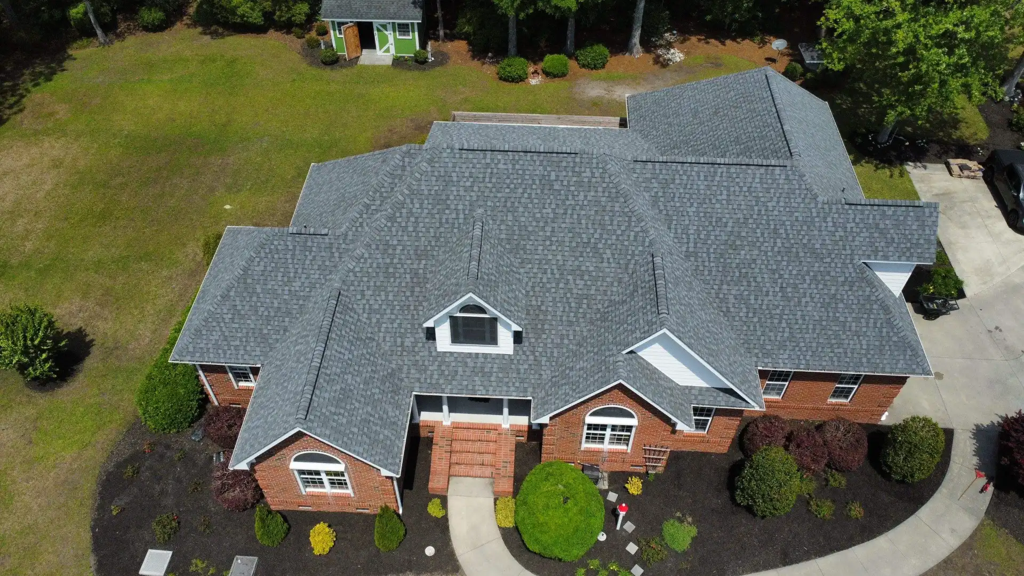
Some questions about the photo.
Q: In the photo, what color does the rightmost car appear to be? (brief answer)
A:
black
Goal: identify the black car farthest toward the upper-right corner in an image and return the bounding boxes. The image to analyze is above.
[984,144,1024,228]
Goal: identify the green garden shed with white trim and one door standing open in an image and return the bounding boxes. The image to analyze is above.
[321,0,428,59]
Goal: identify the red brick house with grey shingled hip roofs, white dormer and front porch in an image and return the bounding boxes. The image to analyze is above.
[169,65,940,525]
